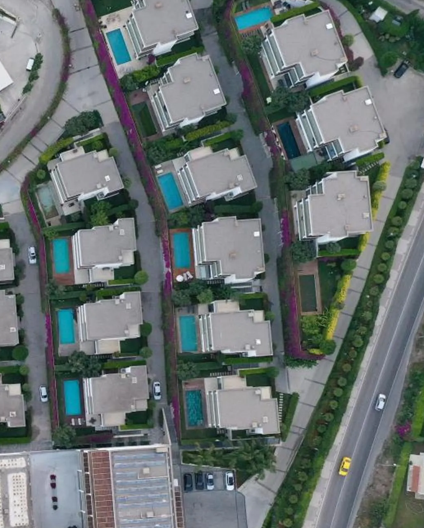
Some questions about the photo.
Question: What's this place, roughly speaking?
residential area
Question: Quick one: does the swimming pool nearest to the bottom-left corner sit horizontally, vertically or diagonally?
vertically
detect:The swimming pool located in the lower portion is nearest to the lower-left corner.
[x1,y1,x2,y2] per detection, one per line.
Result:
[62,379,83,416]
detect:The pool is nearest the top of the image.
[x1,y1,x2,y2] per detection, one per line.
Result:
[233,5,274,31]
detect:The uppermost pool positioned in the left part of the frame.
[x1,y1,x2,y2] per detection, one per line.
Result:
[104,26,133,65]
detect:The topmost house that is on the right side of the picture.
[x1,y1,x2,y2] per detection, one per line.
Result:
[259,10,347,88]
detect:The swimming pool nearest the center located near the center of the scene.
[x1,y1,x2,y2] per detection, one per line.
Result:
[173,232,192,268]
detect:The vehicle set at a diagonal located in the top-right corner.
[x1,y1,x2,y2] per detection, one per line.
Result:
[393,60,408,78]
